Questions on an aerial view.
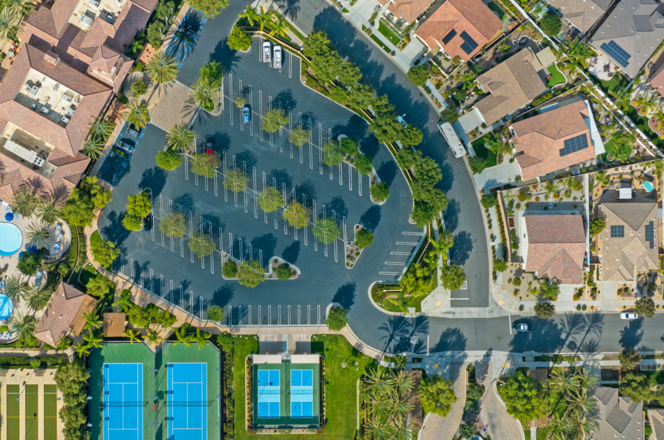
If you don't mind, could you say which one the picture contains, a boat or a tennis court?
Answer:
tennis court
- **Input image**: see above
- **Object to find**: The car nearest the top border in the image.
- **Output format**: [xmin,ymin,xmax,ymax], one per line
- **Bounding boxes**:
[180,23,198,35]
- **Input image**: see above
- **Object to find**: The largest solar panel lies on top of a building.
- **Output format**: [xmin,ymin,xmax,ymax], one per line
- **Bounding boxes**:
[560,134,588,157]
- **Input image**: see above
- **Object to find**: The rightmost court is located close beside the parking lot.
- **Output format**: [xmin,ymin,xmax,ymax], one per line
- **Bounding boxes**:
[285,356,320,427]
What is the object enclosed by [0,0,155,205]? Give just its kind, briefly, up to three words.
building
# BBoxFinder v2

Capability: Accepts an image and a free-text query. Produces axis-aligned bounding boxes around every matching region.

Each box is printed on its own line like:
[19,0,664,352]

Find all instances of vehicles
[512,323,531,332]
[273,45,281,66]
[263,42,271,63]
[144,214,153,231]
[123,124,141,137]
[436,121,470,159]
[180,23,198,35]
[117,139,134,152]
[242,105,250,123]
[620,312,637,320]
